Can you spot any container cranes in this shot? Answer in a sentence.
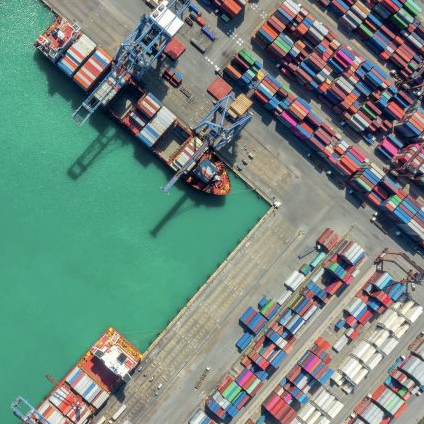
Yes, looking at the shot, I can spot a container crane.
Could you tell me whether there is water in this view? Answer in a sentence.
Yes, there's water in this view.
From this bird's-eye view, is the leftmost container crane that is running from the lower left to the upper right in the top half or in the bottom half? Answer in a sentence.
The top half of the photo is where the leftmost container crane that is running from the lower left to the upper right is.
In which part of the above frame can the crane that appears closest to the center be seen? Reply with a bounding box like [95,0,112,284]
[163,75,267,192]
